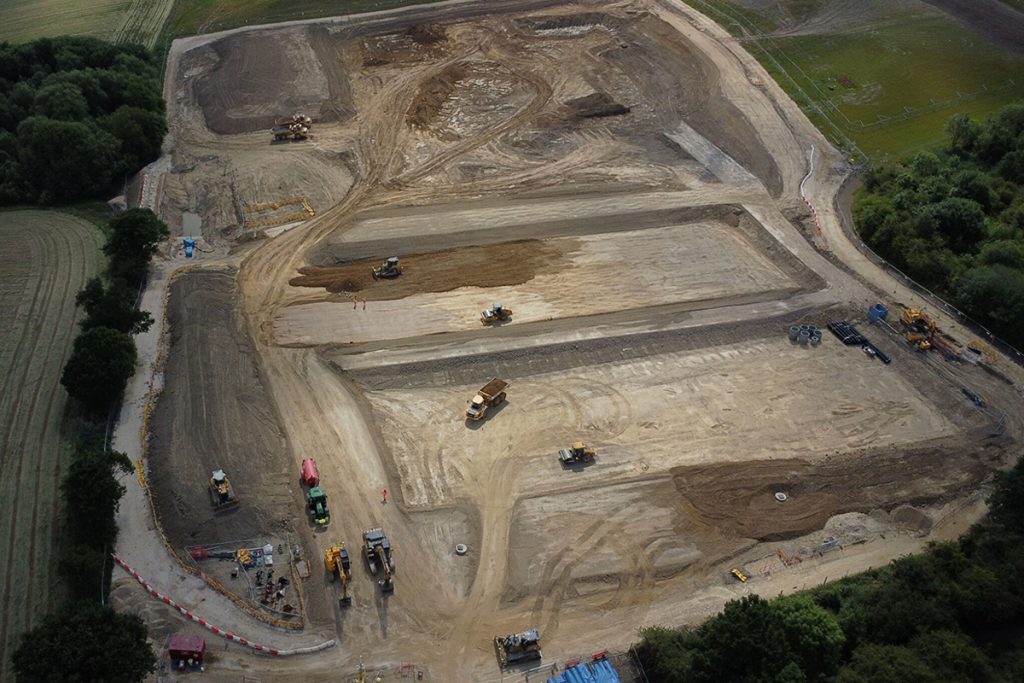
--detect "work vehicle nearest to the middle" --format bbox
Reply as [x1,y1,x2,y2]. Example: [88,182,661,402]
[481,302,513,322]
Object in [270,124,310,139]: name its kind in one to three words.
vehicle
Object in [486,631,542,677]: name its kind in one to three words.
work vehicle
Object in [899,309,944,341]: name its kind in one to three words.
work vehicle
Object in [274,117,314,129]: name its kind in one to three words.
vehicle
